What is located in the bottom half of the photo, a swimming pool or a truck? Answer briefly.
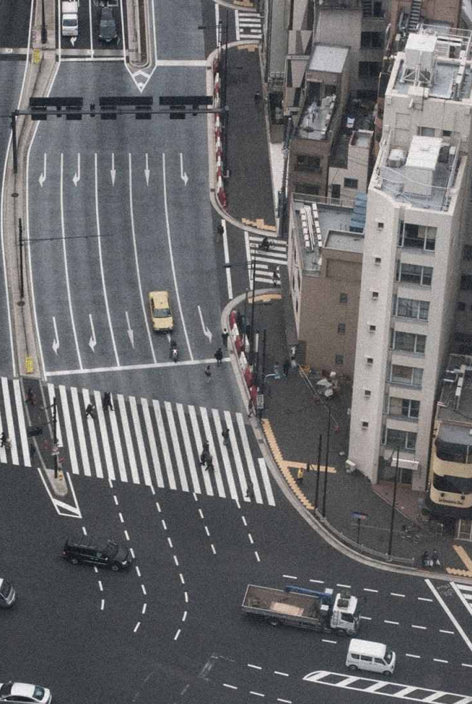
truck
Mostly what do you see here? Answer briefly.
paved ground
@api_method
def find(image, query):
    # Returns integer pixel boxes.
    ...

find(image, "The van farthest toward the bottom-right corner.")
[344,637,397,675]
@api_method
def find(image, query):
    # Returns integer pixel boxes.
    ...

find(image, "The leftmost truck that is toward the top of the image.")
[59,0,81,30]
